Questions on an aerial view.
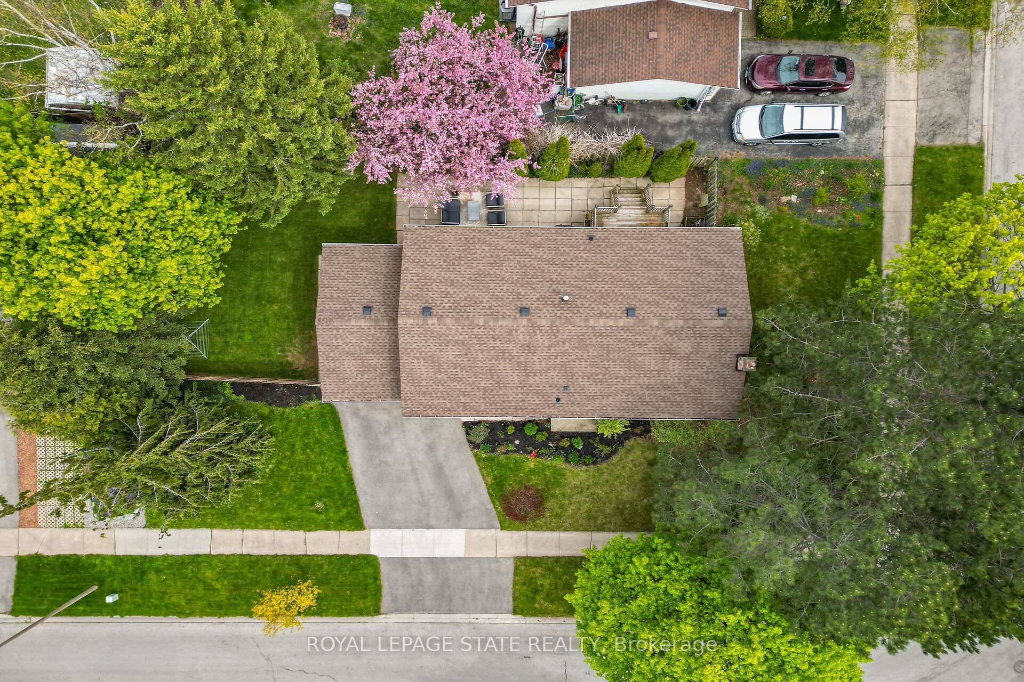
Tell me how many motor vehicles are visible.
2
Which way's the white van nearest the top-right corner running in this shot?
from left to right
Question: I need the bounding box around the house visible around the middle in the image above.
[315,223,759,422]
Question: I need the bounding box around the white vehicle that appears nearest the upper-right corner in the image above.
[732,97,851,150]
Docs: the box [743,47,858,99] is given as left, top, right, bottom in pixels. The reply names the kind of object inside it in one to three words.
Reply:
car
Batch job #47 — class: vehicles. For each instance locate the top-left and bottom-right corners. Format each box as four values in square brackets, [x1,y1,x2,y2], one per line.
[732,97,851,150]
[743,47,858,99]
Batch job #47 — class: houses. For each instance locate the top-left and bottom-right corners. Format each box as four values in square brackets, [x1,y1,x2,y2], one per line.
[502,0,755,102]
[315,223,759,422]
